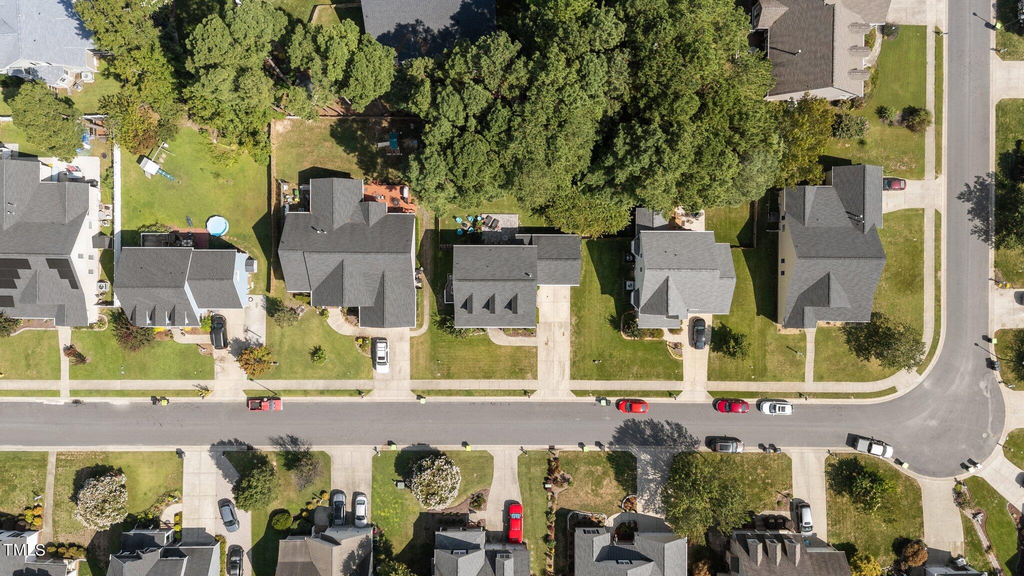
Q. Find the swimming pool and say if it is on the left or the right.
left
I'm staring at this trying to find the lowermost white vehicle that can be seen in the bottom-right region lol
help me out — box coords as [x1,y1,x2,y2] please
[797,503,815,535]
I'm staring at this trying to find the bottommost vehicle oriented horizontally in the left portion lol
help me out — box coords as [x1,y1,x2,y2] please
[248,398,283,413]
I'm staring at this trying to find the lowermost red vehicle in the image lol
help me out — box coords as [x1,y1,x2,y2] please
[508,504,523,543]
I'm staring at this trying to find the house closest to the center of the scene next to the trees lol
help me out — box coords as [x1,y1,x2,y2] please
[444,234,582,329]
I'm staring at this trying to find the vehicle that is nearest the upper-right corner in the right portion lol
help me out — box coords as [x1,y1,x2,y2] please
[883,177,907,191]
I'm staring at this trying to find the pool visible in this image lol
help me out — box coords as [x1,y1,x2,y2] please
[200,214,228,237]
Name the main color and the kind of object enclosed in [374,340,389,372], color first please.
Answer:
white car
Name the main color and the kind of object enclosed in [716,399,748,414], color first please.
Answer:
red car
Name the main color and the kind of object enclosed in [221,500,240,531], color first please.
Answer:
gray car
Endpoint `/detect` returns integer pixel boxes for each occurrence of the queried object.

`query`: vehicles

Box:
[210,315,228,348]
[294,189,302,200]
[853,436,892,457]
[716,399,748,414]
[508,504,523,543]
[692,319,707,349]
[330,492,346,526]
[797,503,815,535]
[353,494,368,527]
[618,399,648,414]
[374,340,389,372]
[711,438,743,454]
[760,401,794,416]
[221,500,240,531]
[227,545,244,576]
[883,177,907,191]
[248,398,283,413]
